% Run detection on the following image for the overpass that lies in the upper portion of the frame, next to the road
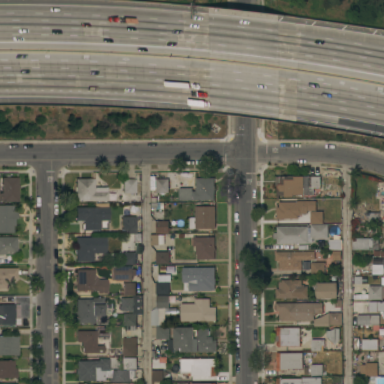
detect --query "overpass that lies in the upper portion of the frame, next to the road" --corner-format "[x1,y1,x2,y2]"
[209,6,278,120]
